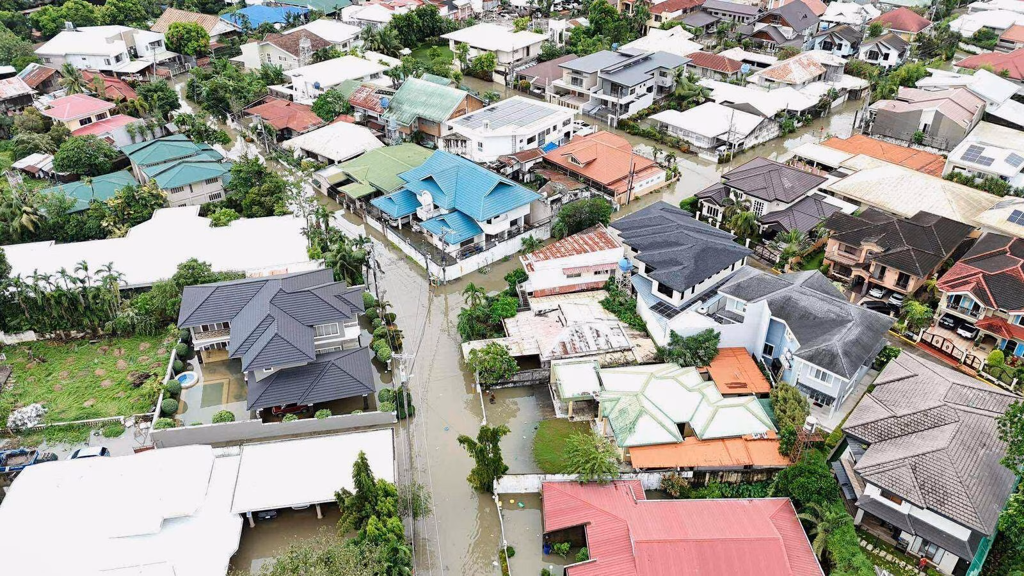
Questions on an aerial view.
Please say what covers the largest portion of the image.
buildings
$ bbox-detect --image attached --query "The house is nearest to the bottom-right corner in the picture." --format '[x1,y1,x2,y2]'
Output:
[833,349,1024,576]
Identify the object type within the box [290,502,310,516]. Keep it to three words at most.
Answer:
car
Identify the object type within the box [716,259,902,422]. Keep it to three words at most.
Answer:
house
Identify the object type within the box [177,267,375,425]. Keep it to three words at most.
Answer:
house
